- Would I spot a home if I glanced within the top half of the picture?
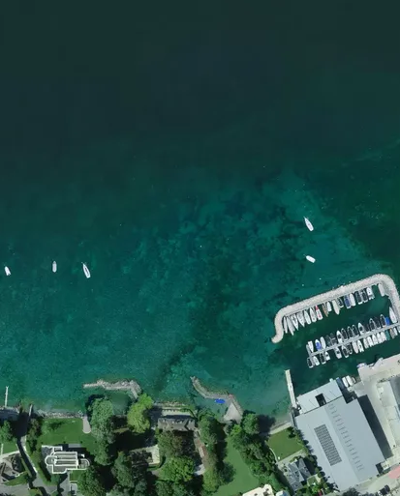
No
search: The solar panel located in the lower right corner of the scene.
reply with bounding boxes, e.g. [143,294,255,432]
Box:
[315,424,342,465]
